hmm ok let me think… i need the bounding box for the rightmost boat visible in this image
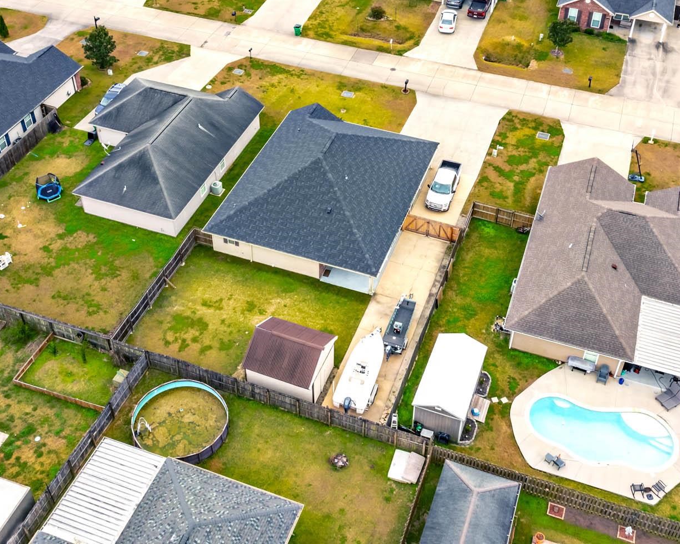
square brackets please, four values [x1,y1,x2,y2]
[381,289,422,361]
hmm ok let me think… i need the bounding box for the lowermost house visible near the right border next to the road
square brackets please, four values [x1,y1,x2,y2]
[503,158,680,392]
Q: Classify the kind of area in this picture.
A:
residential area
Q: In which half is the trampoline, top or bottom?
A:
top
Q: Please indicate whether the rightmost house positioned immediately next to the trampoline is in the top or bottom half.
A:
top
